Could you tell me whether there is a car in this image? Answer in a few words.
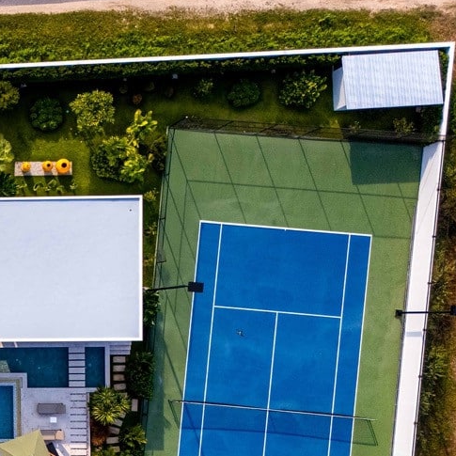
No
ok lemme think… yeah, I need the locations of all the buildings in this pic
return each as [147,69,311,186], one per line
[0,195,142,342]
[326,51,444,115]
